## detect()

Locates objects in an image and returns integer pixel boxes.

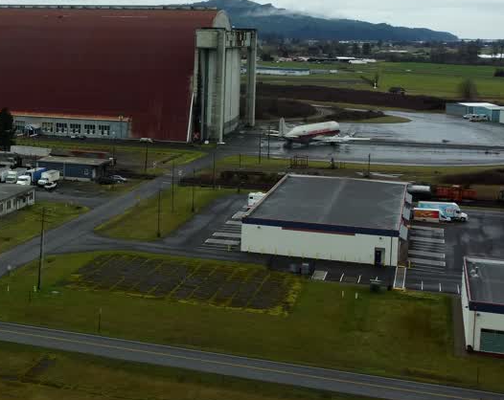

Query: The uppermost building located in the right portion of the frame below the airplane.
[239,174,414,267]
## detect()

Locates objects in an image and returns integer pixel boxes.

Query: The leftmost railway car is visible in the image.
[408,184,449,201]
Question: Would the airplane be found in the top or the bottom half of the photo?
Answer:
top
